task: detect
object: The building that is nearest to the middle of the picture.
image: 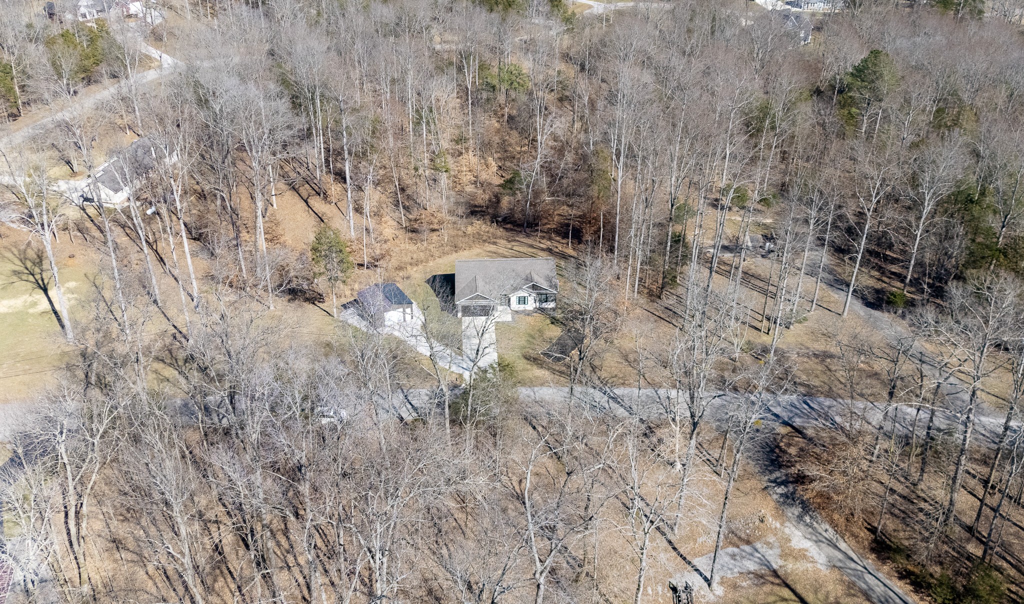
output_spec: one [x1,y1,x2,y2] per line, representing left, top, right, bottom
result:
[457,258,562,318]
